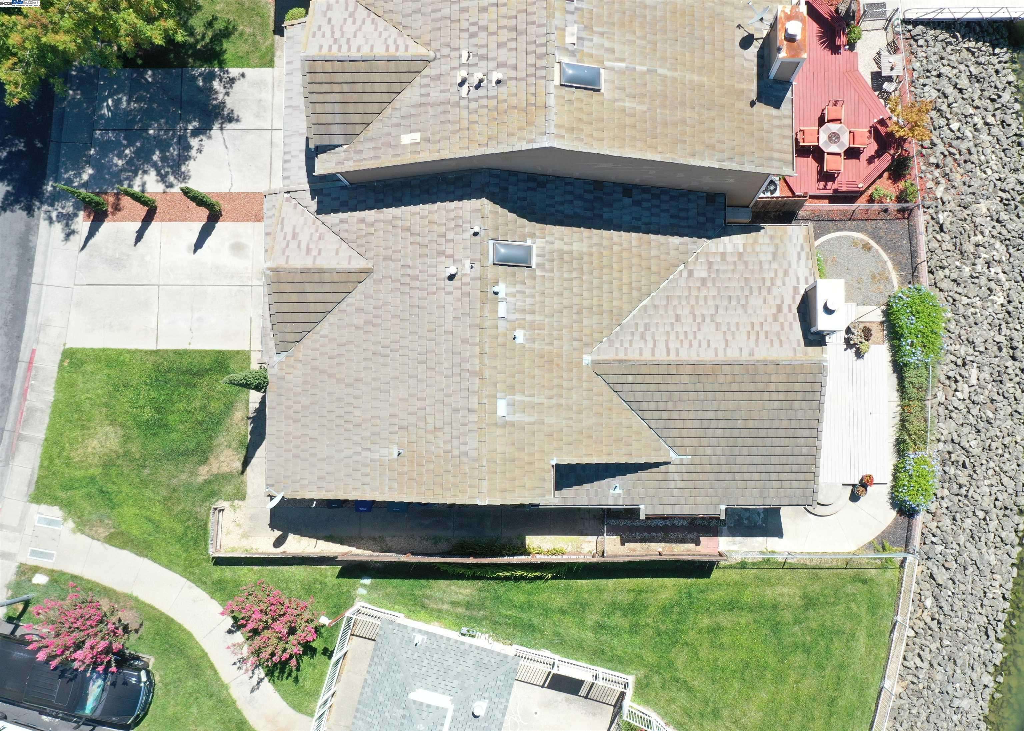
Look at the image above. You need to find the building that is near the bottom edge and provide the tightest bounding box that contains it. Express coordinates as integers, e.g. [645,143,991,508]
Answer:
[351,618,521,731]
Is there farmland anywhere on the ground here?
No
